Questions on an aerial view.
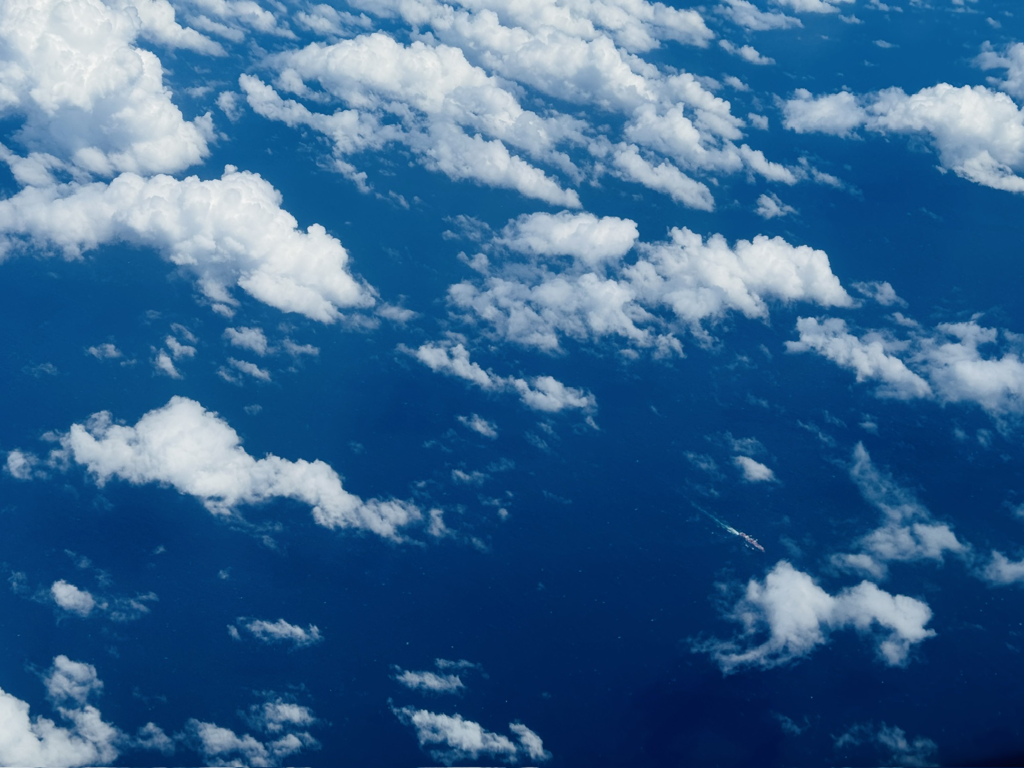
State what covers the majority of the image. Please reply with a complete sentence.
The scene is dominated by water.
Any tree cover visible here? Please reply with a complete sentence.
No, no tree cover is visible.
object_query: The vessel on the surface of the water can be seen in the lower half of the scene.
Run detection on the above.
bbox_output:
[739,532,764,551]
